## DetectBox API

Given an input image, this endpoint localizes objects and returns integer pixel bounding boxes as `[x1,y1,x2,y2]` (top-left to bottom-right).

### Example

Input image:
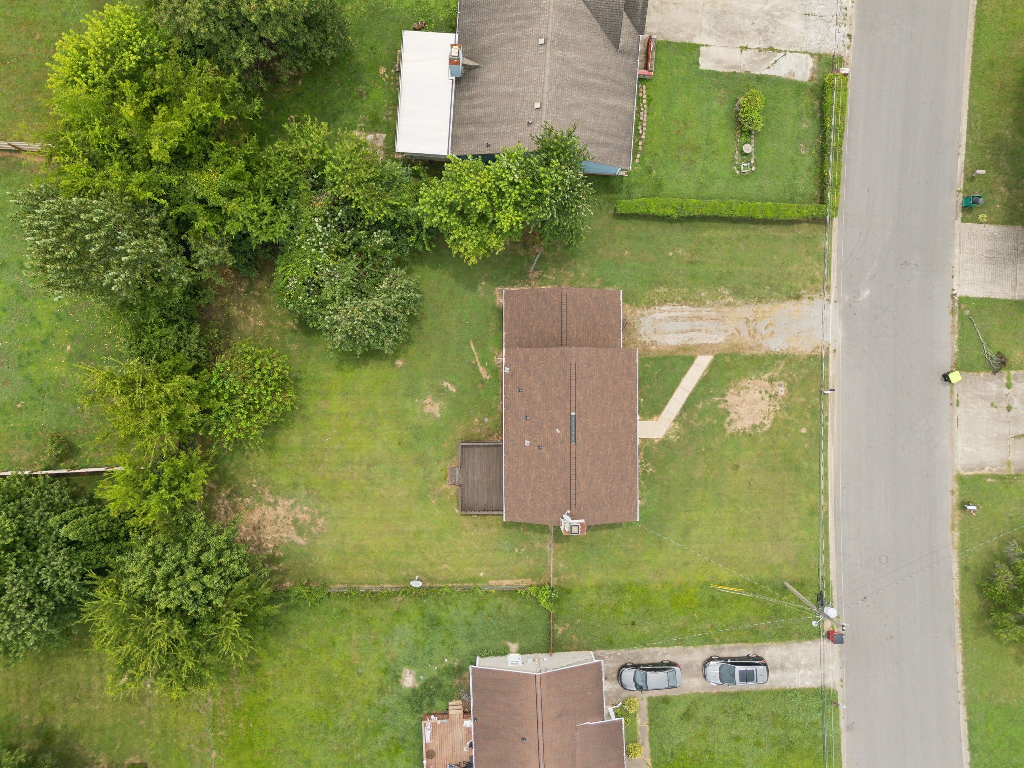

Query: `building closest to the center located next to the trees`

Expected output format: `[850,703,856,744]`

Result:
[501,288,641,536]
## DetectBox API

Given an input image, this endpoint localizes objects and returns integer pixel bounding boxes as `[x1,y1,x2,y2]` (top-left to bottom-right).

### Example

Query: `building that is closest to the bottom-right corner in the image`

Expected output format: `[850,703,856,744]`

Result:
[468,651,628,768]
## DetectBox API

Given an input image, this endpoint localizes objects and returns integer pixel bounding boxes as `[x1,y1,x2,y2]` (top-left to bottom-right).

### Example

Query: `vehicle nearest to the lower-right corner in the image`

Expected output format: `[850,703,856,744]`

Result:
[702,654,770,691]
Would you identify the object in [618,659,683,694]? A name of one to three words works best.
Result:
car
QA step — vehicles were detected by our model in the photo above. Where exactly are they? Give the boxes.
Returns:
[618,659,683,694]
[702,654,770,691]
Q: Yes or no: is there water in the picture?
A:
No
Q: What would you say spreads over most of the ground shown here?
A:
grass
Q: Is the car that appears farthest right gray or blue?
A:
gray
